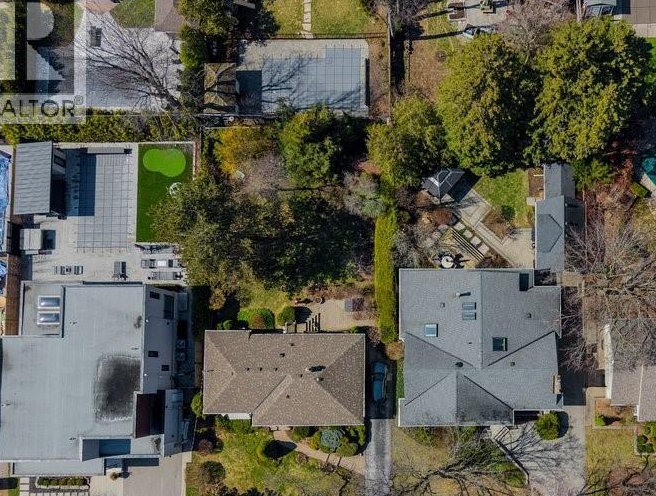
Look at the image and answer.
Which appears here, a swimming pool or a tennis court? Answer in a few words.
swimming pool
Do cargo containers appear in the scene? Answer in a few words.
No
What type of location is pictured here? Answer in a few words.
residential area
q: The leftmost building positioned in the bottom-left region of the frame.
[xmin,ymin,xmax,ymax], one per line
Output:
[0,284,192,477]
